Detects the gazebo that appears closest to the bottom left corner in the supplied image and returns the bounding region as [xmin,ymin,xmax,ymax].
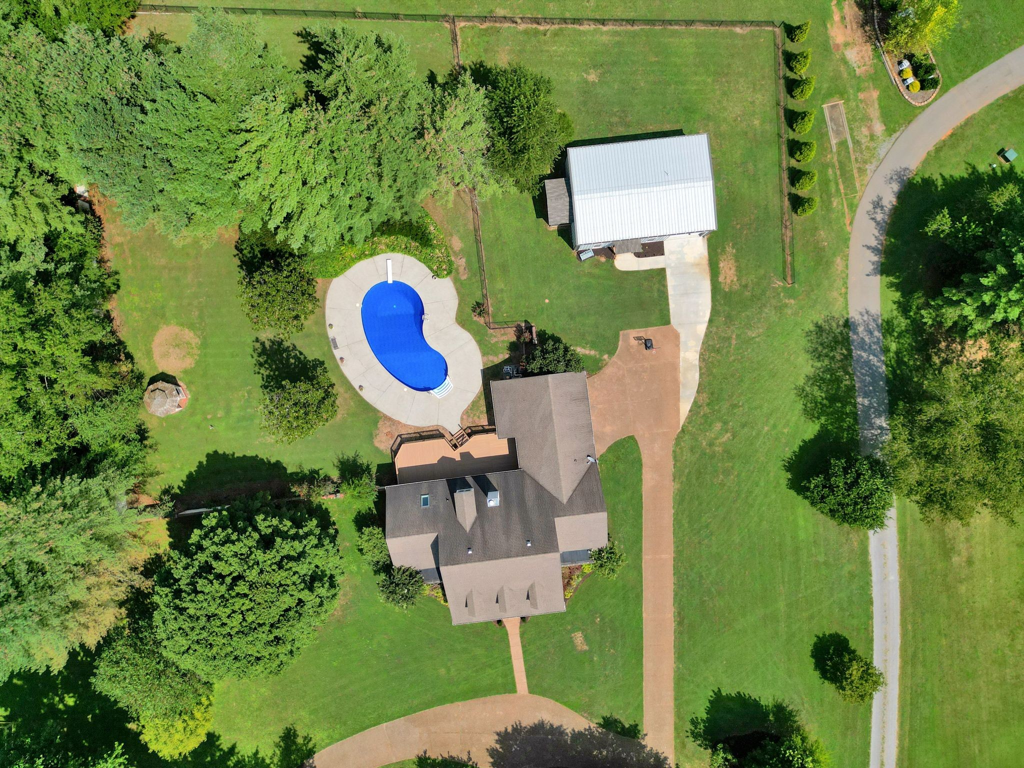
[144,381,188,417]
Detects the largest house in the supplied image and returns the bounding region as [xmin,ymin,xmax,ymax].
[385,369,609,626]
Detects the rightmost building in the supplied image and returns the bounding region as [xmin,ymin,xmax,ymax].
[566,132,721,260]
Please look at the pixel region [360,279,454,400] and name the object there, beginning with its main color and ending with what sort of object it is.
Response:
blue swimming pool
